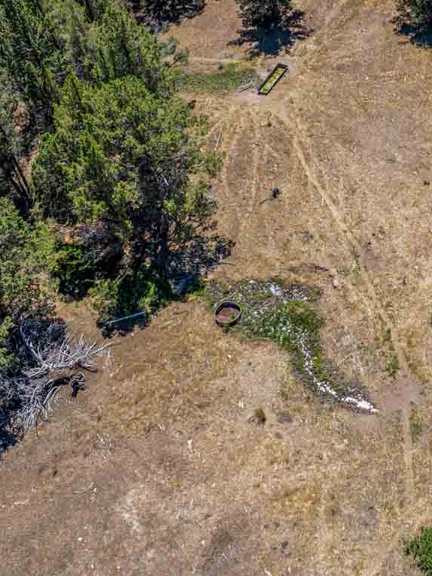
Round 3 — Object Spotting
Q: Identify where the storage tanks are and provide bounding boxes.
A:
[212,302,241,331]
